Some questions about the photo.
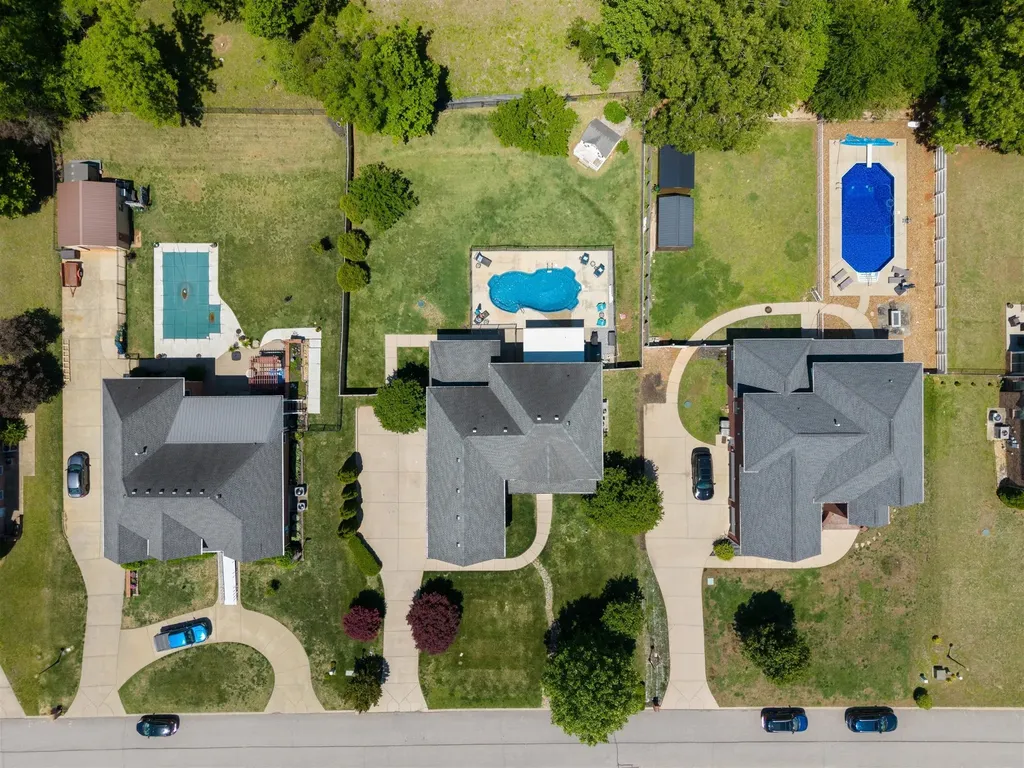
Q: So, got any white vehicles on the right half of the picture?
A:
No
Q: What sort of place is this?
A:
residential area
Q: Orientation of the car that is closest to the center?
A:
from top to bottom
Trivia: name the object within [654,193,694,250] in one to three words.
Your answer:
shed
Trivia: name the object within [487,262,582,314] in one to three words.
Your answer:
swimming pool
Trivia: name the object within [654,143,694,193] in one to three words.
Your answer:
shed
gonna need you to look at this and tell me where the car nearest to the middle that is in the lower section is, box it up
[691,448,716,499]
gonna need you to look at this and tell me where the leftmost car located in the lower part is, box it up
[64,451,90,498]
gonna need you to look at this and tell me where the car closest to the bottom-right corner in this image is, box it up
[846,709,897,735]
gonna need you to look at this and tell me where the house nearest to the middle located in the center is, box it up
[426,339,604,569]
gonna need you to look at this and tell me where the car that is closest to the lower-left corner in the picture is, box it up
[136,716,178,740]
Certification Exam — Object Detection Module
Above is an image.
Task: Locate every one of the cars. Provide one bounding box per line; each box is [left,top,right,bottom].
[846,709,897,735]
[762,709,807,734]
[64,451,90,498]
[136,716,178,740]
[691,448,716,499]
